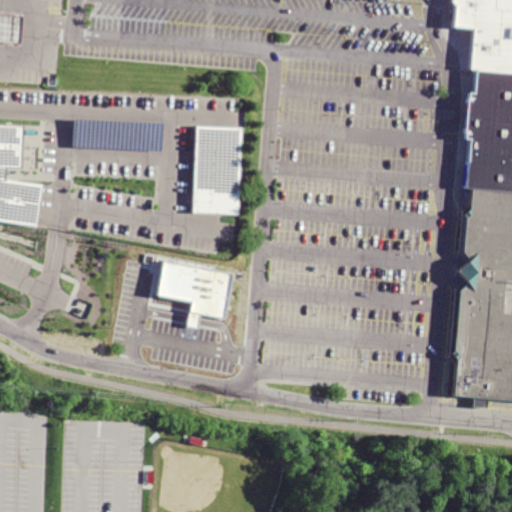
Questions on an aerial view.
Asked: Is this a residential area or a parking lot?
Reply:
parking lot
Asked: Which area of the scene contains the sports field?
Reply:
bottom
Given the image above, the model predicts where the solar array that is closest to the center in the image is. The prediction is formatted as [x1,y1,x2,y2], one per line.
[198,130,239,192]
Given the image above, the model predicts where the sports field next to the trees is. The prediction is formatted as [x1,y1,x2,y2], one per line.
[150,440,254,512]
